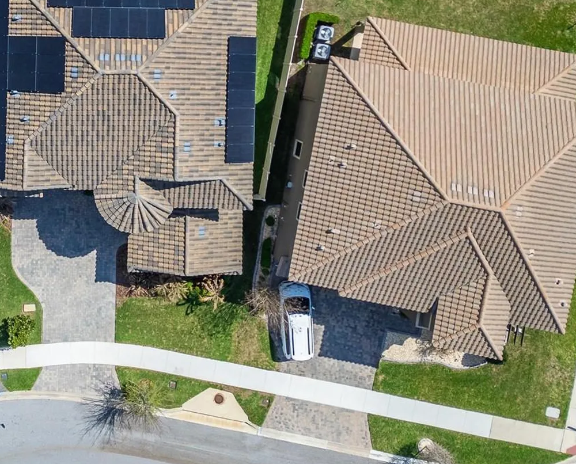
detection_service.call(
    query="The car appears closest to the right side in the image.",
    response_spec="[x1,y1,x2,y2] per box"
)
[277,278,319,365]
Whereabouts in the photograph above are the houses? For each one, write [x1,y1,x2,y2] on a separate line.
[0,0,257,277]
[274,16,576,363]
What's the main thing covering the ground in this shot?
buildings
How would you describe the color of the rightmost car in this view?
white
